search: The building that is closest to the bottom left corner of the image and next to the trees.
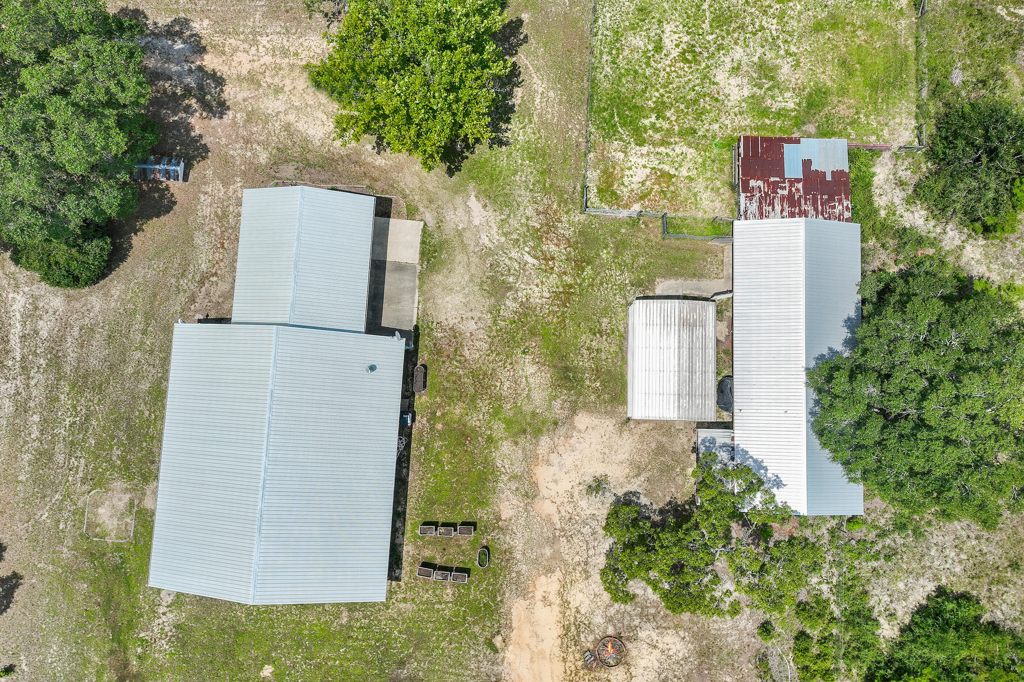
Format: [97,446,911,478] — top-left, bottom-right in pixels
[147,322,406,607]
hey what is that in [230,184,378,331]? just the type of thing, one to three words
building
